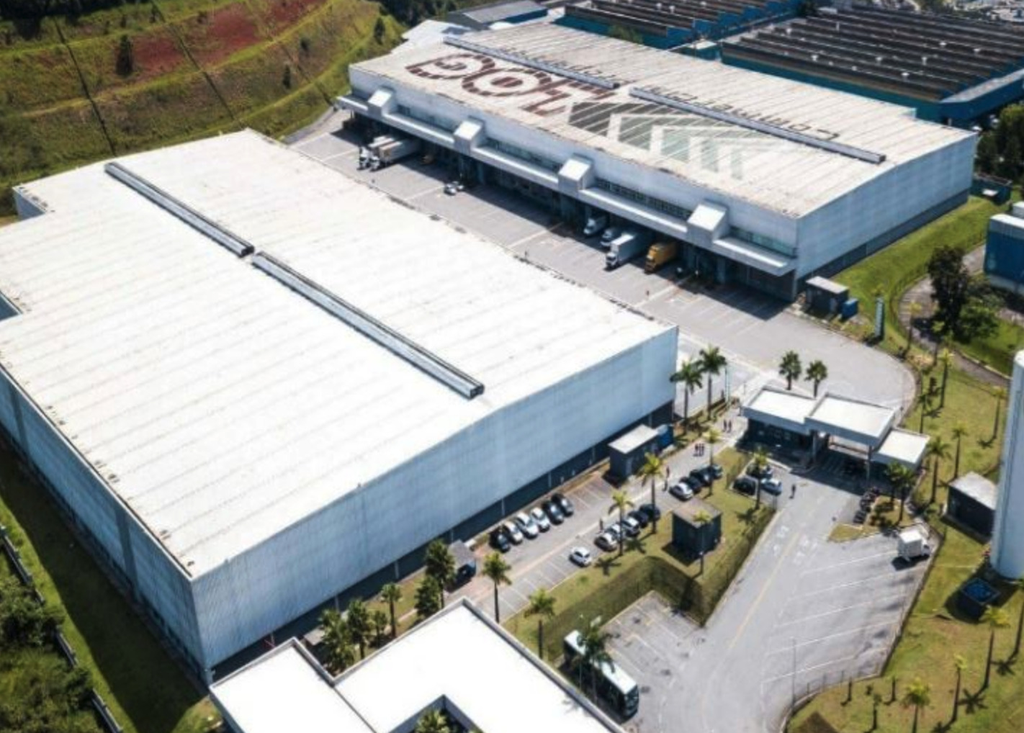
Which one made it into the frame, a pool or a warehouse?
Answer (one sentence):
The image shows a warehouse.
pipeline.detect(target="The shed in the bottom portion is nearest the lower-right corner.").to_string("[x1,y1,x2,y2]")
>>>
[947,472,998,536]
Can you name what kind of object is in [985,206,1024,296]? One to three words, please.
building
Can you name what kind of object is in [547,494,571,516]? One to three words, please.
car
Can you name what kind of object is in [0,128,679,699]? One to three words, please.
warehouse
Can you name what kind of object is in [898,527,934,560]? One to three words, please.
truck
